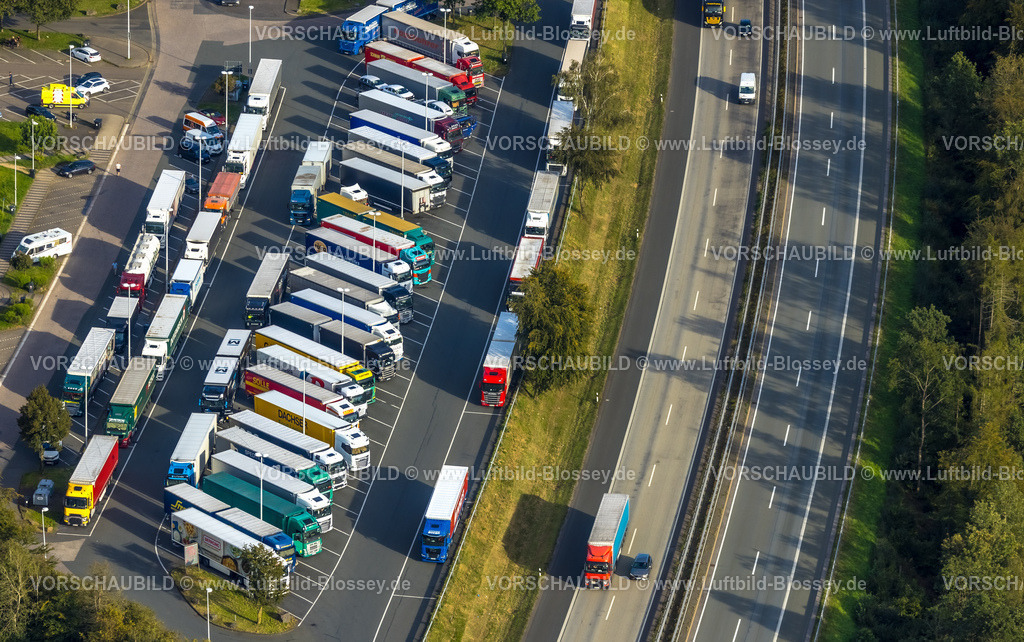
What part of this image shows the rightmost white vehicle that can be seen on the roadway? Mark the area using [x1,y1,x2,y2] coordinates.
[738,69,757,102]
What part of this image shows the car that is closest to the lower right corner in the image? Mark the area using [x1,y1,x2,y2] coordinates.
[629,550,653,577]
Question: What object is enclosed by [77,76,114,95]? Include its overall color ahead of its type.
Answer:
white car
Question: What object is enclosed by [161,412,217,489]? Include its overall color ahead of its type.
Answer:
white truck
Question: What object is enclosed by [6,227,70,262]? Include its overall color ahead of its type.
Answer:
white camper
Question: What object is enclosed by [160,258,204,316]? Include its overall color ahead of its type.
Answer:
white truck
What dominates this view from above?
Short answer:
paved ground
